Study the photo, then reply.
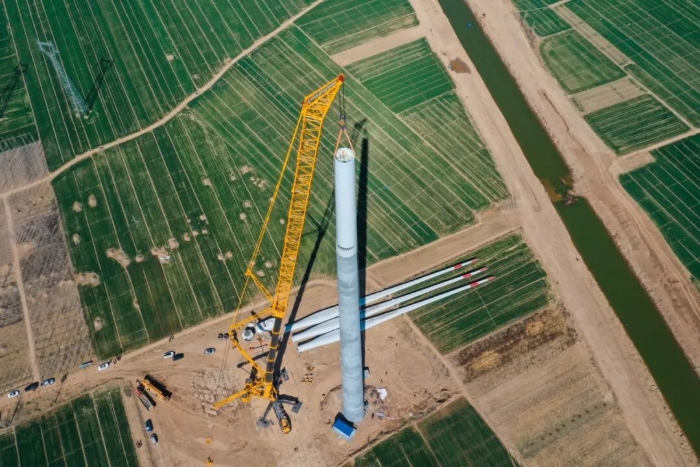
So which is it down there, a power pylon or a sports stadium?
power pylon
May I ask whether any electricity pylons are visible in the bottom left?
No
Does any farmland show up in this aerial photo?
Yes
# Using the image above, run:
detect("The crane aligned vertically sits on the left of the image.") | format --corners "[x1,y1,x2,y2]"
[208,75,347,433]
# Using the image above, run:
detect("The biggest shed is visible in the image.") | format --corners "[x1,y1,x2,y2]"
[331,418,355,443]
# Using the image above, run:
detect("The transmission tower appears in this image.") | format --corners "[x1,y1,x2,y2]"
[33,38,92,117]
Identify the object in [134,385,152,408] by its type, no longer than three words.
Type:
vehicle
